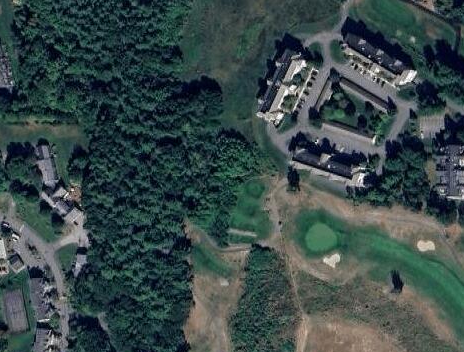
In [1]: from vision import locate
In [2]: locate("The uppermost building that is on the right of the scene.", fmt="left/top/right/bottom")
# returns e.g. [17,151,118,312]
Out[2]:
[340,30,417,87]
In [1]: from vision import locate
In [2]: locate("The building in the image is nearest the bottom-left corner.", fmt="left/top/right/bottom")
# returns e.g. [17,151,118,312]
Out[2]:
[31,325,57,352]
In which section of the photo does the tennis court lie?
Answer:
bottom left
